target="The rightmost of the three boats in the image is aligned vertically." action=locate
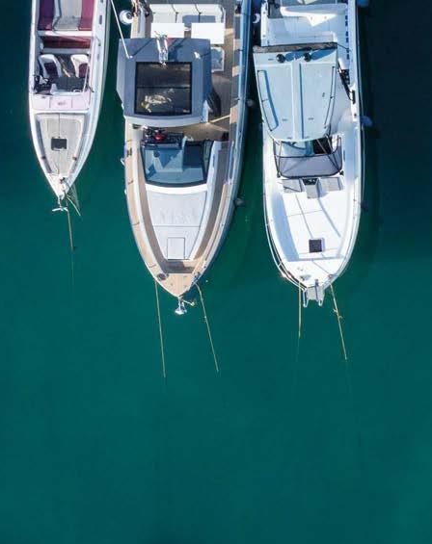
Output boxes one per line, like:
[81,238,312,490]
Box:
[254,0,363,306]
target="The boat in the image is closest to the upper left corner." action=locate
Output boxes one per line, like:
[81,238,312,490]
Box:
[29,0,112,211]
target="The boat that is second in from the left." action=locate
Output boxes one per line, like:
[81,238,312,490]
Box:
[111,0,252,314]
